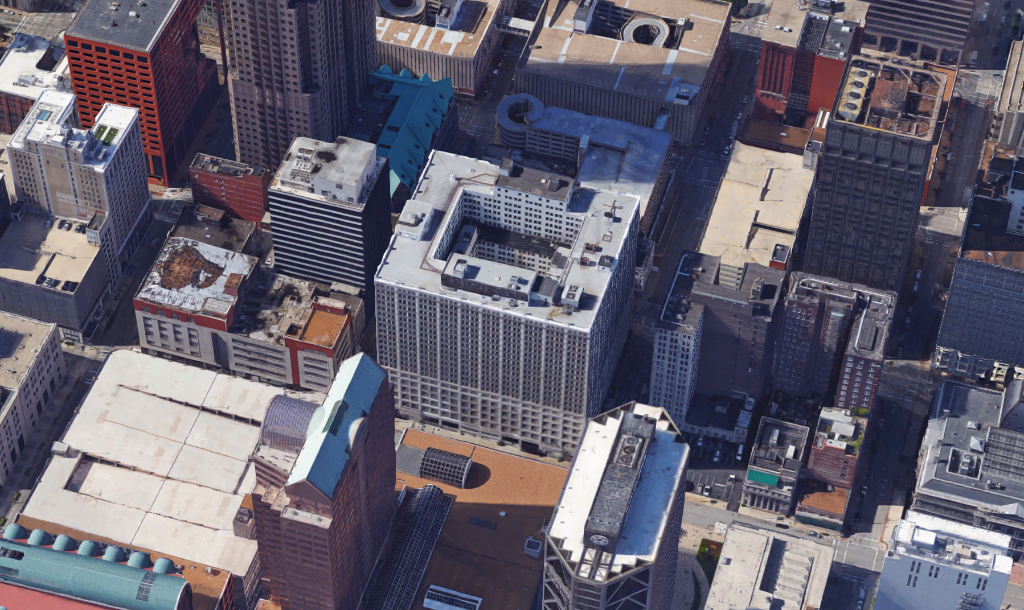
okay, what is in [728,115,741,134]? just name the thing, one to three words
vehicle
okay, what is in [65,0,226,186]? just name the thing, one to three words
building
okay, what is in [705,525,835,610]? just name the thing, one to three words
building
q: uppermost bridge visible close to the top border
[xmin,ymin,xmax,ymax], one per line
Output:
[493,15,533,43]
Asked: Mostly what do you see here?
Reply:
buildings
